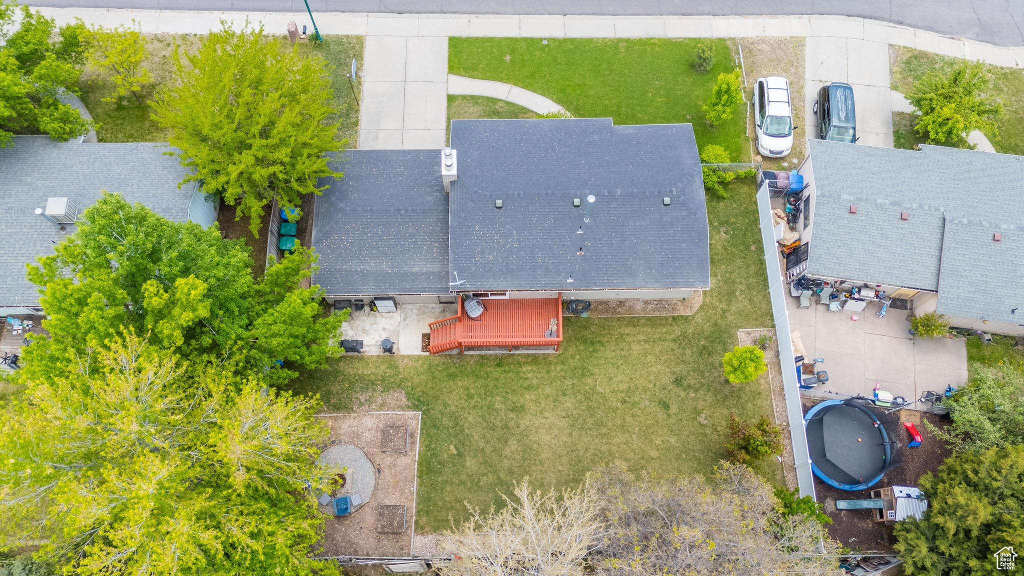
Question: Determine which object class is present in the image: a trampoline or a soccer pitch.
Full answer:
Of the two, only a trampoline appears.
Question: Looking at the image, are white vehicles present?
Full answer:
Yes, you can see a white vehicle in this photo.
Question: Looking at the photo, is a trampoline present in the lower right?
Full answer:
Yes, there is a trampoline in the lower right.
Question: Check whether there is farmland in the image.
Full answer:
No, the picture contains no farmland.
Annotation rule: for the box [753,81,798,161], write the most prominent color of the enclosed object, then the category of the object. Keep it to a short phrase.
white car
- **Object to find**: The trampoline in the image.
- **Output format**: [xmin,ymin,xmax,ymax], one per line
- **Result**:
[802,392,909,496]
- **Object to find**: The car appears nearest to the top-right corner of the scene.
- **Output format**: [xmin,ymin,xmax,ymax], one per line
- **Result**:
[815,84,863,144]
